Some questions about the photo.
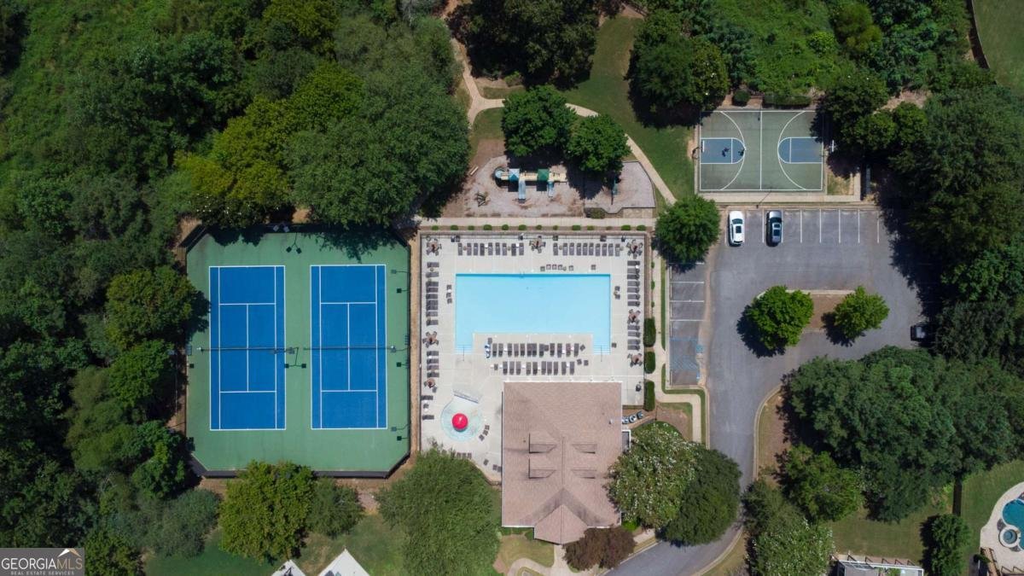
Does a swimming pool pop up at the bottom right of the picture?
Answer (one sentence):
Yes, I can see a swimming pool at the bottom right of the picture.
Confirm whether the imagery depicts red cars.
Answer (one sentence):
No, there is no red car in the image.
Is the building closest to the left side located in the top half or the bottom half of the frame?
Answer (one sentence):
It is in the bottom half that the building closest to the left side appears.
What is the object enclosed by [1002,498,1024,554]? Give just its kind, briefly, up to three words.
swimming pool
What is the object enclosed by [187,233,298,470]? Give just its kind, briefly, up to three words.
tennis court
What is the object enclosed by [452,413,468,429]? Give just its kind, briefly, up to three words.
fountain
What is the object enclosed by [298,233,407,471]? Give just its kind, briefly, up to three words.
tennis court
